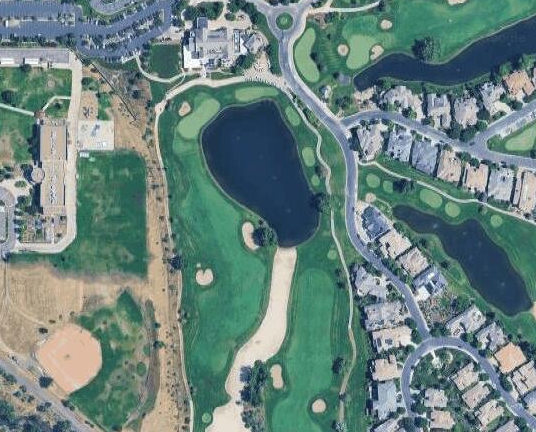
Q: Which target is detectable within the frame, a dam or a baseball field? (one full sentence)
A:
Visible in the photo is a baseball field.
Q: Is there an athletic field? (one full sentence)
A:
Yes, there's an athletic field down there.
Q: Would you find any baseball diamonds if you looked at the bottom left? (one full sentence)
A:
Yes, a baseball diamond can be seen at the bottom left.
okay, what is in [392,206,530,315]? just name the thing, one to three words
pond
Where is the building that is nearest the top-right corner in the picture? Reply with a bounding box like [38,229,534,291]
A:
[503,65,534,101]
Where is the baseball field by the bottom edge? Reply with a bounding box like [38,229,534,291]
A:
[34,288,146,429]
